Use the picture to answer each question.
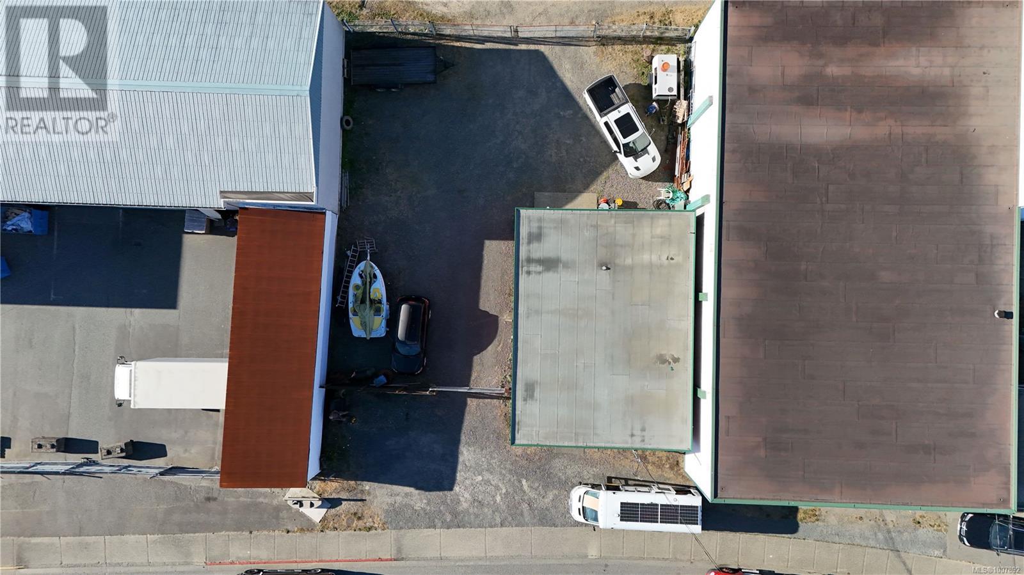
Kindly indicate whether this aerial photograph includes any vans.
Yes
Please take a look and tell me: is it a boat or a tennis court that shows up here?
boat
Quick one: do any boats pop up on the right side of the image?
No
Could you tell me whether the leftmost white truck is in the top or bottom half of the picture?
bottom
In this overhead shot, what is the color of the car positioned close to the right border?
black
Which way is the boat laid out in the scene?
up and down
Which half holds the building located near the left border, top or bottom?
top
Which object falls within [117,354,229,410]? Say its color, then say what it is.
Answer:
white truck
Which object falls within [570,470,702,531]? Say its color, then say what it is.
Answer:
white van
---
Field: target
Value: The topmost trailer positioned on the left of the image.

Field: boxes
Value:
[349,44,460,92]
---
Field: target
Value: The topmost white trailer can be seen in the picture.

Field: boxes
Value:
[645,55,678,118]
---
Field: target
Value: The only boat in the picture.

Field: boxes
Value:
[346,259,388,342]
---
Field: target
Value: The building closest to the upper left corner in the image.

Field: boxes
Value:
[0,0,344,213]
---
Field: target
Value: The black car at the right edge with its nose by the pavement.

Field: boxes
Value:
[955,510,1024,556]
